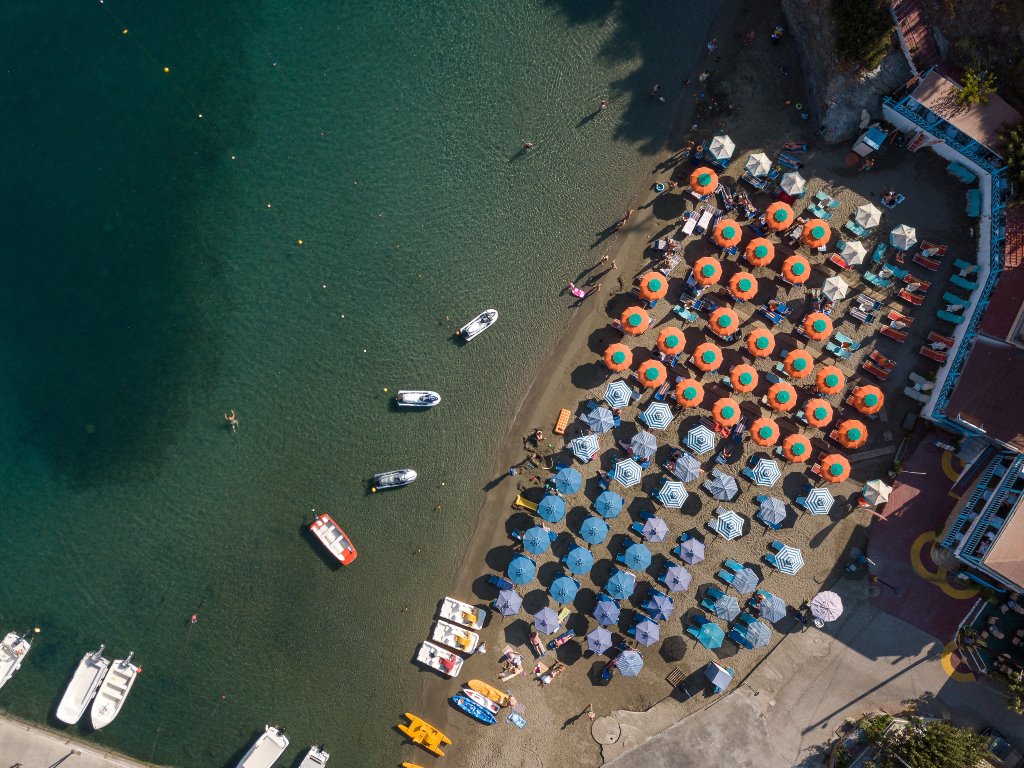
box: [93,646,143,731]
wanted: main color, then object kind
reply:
white boat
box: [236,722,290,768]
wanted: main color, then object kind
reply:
white boat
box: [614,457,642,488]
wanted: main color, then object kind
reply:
white umbrella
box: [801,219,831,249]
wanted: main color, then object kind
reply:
orange umbrella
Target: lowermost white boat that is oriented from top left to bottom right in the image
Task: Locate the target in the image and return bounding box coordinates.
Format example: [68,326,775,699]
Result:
[463,691,500,714]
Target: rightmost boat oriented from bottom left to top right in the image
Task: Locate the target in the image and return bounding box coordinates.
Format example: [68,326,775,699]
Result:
[458,310,497,343]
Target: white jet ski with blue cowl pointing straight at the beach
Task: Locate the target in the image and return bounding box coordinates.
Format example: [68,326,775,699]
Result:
[397,390,440,407]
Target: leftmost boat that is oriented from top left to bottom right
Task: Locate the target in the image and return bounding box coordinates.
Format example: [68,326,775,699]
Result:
[308,509,356,566]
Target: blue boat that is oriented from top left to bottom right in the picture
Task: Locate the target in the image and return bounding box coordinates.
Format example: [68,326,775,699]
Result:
[453,697,495,724]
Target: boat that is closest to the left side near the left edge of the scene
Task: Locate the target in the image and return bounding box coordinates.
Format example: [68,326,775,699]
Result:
[0,628,36,689]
